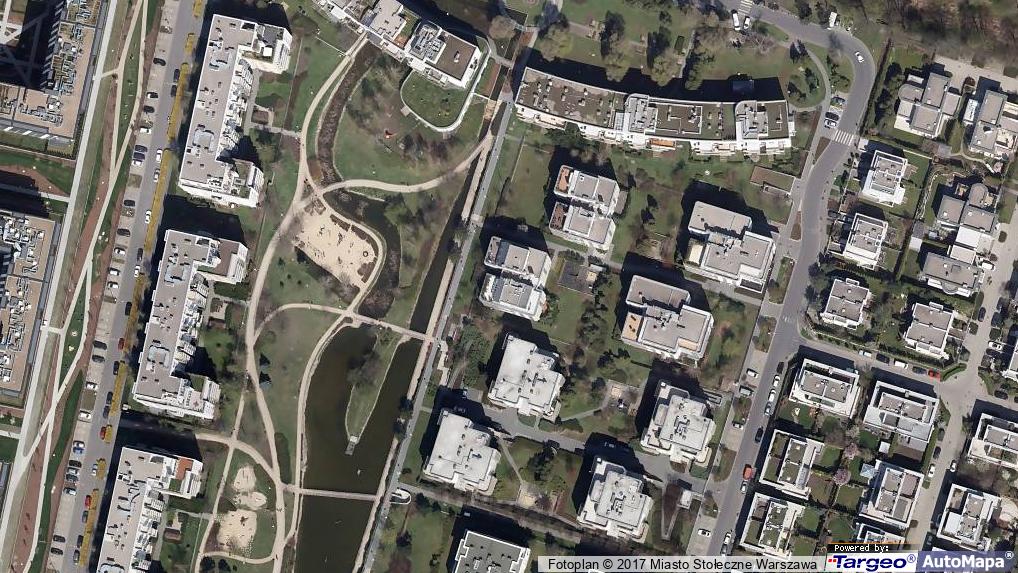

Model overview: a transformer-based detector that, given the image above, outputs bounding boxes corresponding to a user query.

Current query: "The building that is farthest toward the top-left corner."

[0,0,113,151]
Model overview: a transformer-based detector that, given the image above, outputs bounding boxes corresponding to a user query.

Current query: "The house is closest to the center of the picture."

[477,237,550,326]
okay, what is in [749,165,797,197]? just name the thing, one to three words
building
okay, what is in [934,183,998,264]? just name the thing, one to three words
house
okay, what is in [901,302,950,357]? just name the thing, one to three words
house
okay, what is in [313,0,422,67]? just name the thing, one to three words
building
